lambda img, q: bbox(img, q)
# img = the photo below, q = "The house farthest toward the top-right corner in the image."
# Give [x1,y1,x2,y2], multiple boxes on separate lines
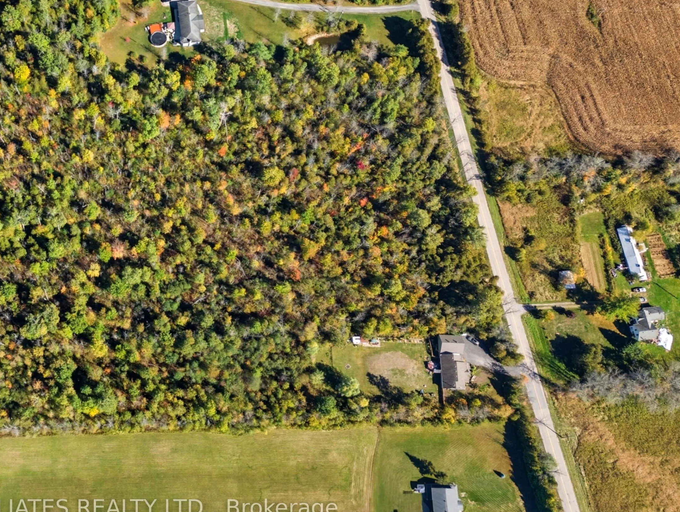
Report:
[617,226,648,281]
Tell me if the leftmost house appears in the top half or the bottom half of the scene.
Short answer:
top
